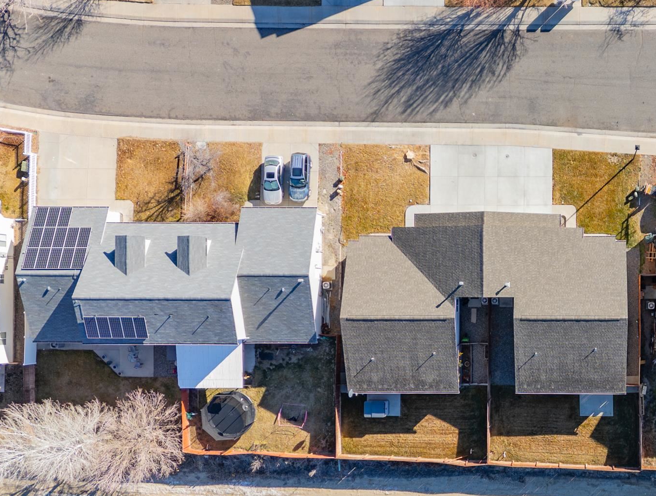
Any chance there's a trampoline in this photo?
Yes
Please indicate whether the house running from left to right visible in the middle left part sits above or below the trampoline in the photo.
above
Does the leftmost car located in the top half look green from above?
No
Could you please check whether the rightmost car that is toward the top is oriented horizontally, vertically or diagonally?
vertically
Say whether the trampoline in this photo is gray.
Yes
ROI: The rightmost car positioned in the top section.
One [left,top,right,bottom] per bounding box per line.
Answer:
[287,153,313,204]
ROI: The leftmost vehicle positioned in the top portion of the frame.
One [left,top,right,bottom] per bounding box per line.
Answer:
[261,157,286,205]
